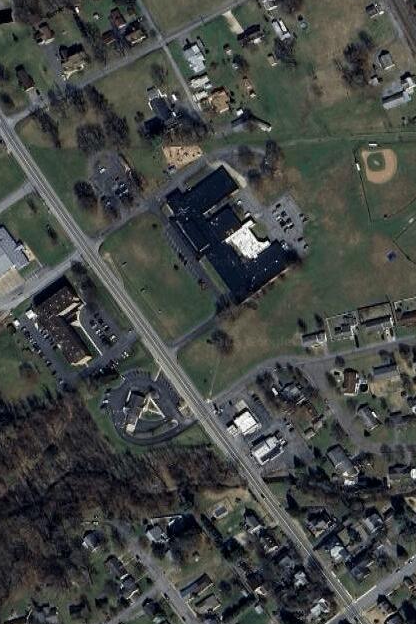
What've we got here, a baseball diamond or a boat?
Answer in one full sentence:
There is a baseball diamond in the scene.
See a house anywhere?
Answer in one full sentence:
Yes, there's a house here.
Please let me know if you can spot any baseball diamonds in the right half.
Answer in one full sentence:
Yes, in the right half there is a baseball diamond.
